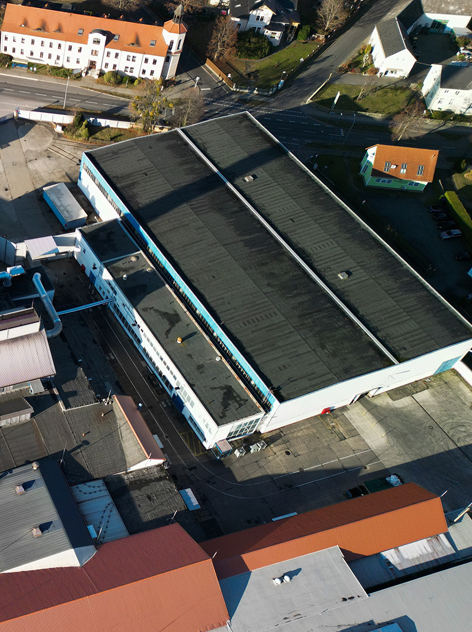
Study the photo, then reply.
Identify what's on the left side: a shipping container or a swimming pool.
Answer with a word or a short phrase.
shipping container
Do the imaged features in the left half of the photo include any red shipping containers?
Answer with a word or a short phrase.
No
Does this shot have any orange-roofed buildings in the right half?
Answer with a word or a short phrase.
Yes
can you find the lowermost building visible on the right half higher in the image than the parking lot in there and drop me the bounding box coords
[358,139,434,192]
